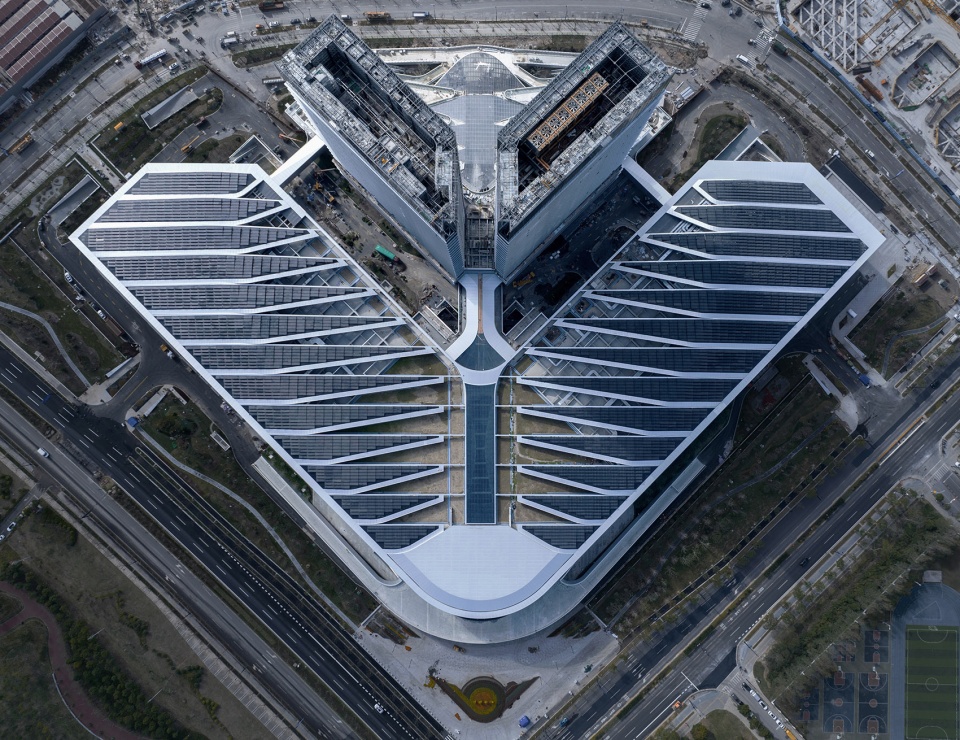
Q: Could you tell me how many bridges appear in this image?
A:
two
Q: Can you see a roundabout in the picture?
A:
No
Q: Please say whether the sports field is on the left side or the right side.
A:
right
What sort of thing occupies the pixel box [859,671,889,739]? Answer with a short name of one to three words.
basketball court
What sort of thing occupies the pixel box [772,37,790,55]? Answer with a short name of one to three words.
vehicle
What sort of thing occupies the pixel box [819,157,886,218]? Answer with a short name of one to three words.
building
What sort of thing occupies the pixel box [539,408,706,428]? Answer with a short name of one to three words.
solar array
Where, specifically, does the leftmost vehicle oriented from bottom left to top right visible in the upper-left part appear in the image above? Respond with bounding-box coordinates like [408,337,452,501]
[7,133,30,152]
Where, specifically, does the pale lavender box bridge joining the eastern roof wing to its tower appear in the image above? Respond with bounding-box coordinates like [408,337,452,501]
[616,154,673,212]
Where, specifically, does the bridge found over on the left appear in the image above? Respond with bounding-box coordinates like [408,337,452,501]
[268,133,329,193]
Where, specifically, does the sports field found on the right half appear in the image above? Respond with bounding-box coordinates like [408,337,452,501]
[906,626,958,740]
